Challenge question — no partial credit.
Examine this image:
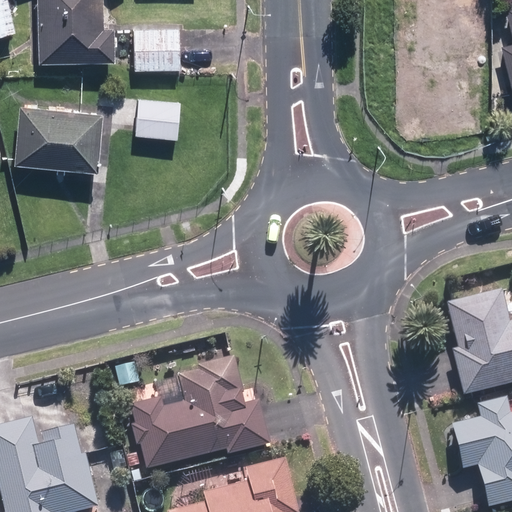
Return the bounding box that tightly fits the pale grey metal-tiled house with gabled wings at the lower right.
[452,395,512,507]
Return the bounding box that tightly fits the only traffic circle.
[282,201,364,275]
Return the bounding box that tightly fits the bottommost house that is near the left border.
[0,416,98,512]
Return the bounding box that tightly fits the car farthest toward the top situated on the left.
[181,49,212,65]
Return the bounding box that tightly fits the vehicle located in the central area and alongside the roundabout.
[266,214,282,244]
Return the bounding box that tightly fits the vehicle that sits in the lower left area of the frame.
[33,384,60,400]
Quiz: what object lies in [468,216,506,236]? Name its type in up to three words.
vehicle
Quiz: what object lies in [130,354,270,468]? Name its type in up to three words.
house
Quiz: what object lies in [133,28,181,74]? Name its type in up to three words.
building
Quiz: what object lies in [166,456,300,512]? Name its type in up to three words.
house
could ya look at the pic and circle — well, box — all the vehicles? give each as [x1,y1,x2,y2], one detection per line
[181,49,212,65]
[266,214,282,244]
[468,216,506,236]
[33,384,60,400]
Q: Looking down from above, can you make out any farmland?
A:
No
